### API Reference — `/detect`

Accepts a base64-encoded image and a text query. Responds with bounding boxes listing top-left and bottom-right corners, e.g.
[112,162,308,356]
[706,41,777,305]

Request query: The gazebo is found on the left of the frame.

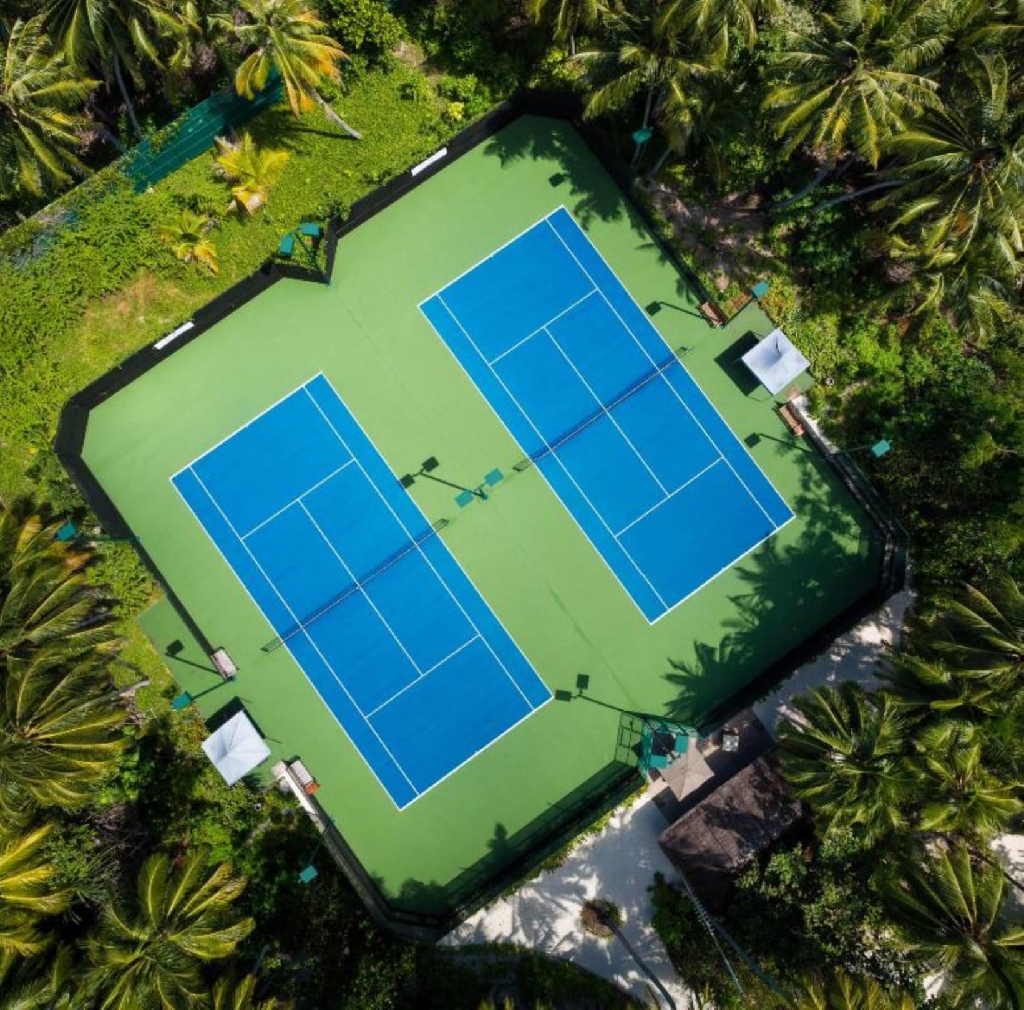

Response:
[204,706,284,784]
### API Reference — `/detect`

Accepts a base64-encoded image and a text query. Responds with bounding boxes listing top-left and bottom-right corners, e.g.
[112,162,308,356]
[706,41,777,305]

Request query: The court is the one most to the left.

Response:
[170,373,553,810]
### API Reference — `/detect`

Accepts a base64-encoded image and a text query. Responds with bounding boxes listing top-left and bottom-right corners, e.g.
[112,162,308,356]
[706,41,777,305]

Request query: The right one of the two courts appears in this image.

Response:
[418,206,796,625]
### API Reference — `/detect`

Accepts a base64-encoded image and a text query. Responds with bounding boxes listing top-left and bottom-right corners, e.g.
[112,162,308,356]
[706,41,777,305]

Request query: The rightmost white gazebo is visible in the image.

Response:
[730,331,808,404]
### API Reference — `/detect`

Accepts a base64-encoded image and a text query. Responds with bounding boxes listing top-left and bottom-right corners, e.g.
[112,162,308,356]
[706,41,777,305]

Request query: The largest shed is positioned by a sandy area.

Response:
[655,750,812,896]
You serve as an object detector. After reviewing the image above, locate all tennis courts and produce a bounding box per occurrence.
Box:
[418,206,796,625]
[170,373,553,810]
